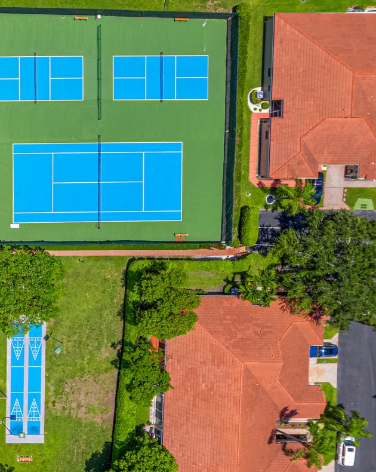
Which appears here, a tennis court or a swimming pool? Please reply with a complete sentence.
There is a tennis court in the scene.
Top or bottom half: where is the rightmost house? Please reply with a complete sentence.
You can find the rightmost house in the top half.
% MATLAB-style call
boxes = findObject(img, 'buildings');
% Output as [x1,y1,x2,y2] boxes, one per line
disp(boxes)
[252,11,376,181]
[148,296,328,472]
